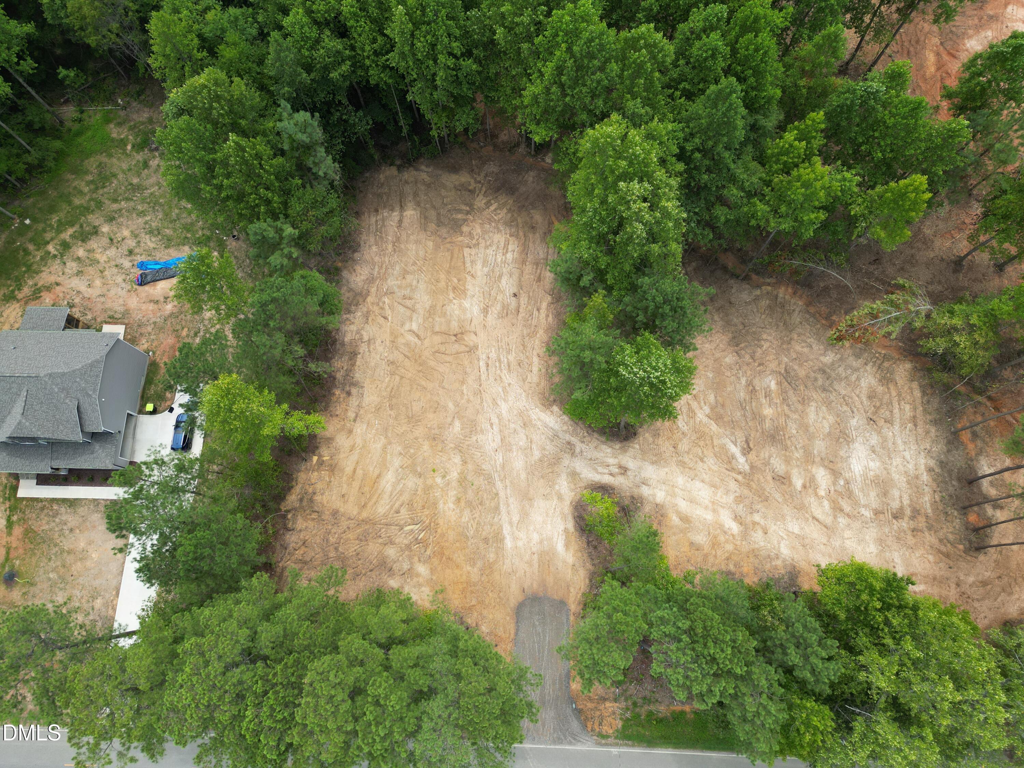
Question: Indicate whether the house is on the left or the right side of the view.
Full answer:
The house appears in the left half of the scene.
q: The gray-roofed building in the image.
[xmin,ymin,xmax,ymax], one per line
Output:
[0,306,150,479]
